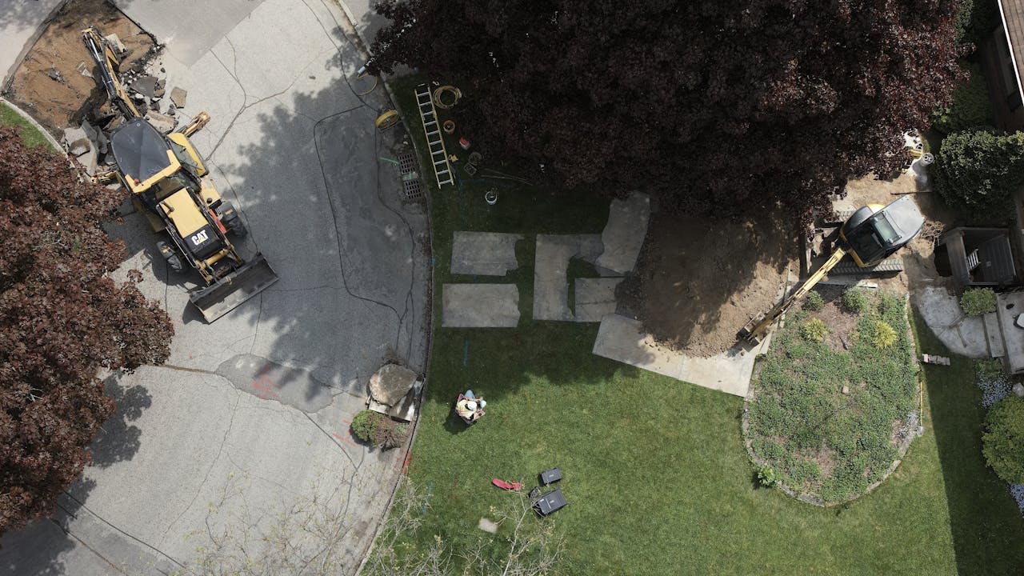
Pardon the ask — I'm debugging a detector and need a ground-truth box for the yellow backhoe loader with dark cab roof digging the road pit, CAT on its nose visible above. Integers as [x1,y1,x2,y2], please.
[78,24,278,324]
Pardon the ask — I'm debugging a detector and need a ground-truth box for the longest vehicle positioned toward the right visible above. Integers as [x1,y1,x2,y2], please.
[728,195,925,360]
